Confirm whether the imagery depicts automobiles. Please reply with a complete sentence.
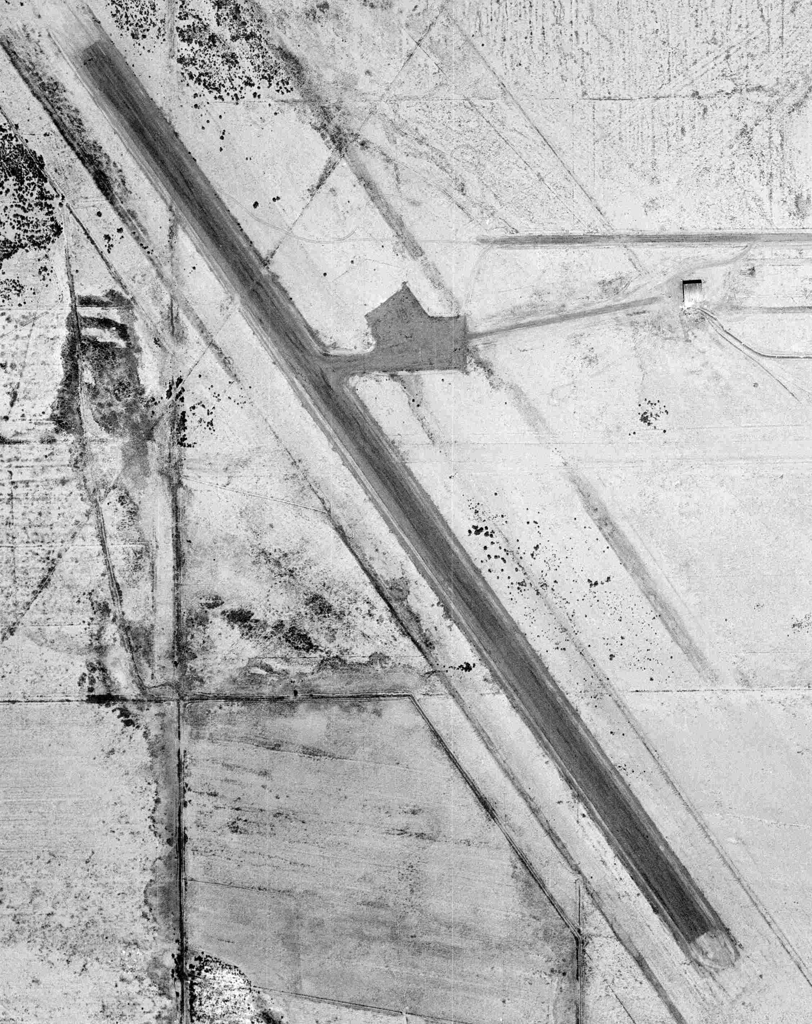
No, the photo shows no automobile.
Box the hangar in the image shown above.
[683,279,705,303]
